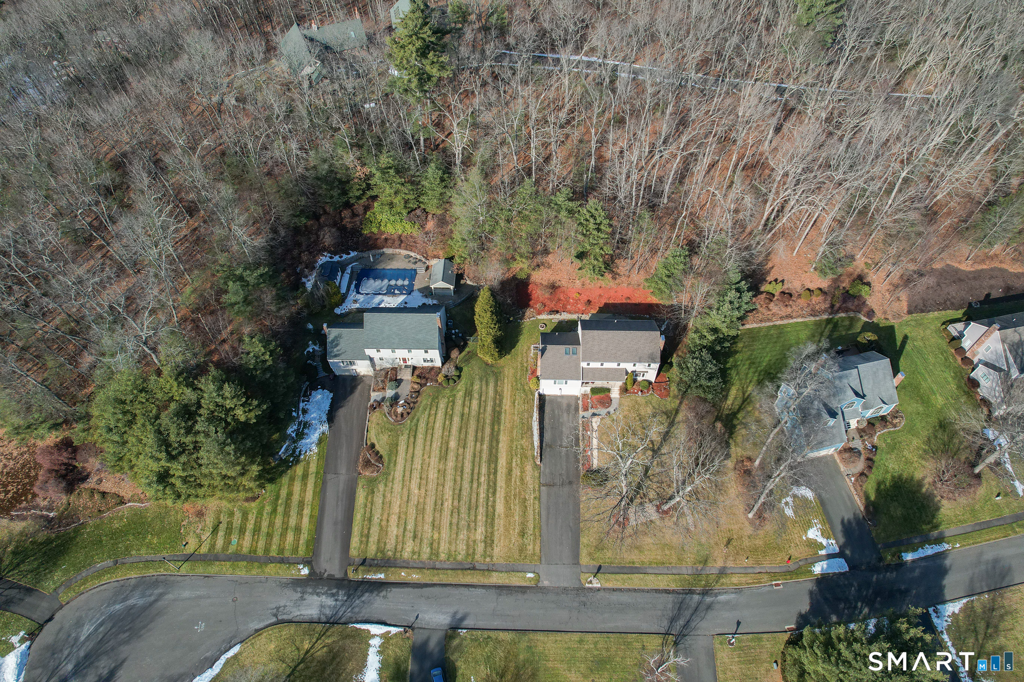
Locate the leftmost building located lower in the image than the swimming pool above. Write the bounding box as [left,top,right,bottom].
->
[322,306,447,383]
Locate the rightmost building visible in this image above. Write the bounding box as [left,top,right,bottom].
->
[946,313,1024,408]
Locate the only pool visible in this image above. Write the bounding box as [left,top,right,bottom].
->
[358,266,417,295]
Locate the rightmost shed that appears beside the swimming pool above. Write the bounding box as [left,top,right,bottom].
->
[430,261,455,295]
